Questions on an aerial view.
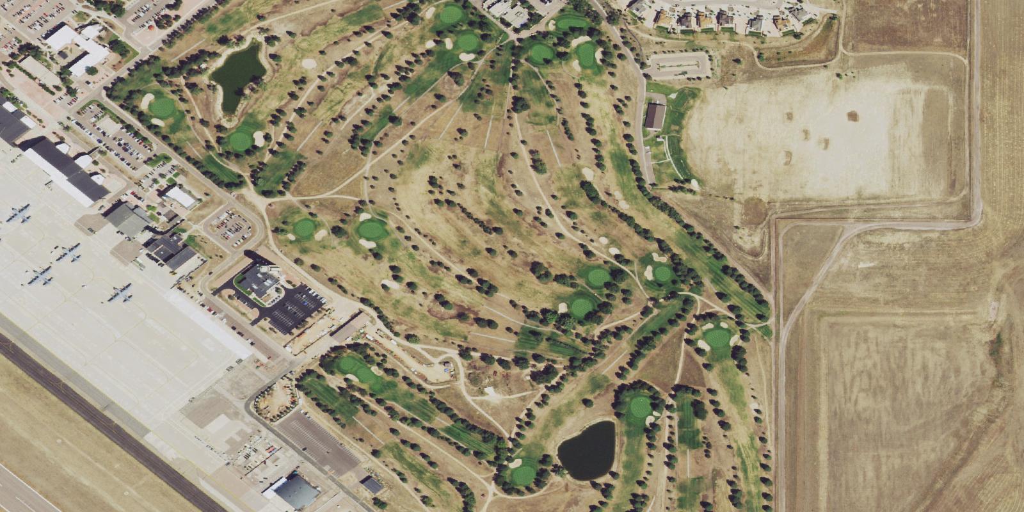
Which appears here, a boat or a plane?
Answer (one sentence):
It is a plane that can be seen here.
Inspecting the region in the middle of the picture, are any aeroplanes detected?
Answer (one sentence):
No, no aeroplane appears in the middle of the picture.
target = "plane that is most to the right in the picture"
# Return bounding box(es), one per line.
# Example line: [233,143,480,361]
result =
[109,285,135,305]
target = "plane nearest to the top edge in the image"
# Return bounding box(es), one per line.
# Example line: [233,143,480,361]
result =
[8,205,34,225]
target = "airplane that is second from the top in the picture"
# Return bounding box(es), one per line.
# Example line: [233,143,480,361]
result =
[58,245,84,265]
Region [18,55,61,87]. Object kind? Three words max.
building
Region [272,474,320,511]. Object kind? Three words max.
hangar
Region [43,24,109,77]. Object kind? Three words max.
building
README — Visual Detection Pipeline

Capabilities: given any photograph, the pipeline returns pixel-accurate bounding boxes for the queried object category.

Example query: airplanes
[109,285,135,305]
[8,205,34,225]
[29,267,55,287]
[58,245,84,265]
